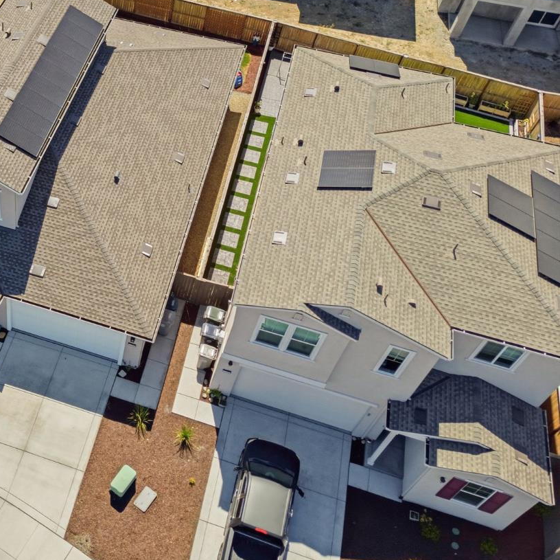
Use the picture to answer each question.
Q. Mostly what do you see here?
buildings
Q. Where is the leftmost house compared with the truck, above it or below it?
above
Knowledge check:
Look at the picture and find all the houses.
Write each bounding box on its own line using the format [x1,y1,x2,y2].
[436,0,560,52]
[0,0,246,368]
[209,45,560,531]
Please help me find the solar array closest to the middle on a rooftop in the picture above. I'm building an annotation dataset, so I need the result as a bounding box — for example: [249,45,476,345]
[316,150,375,190]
